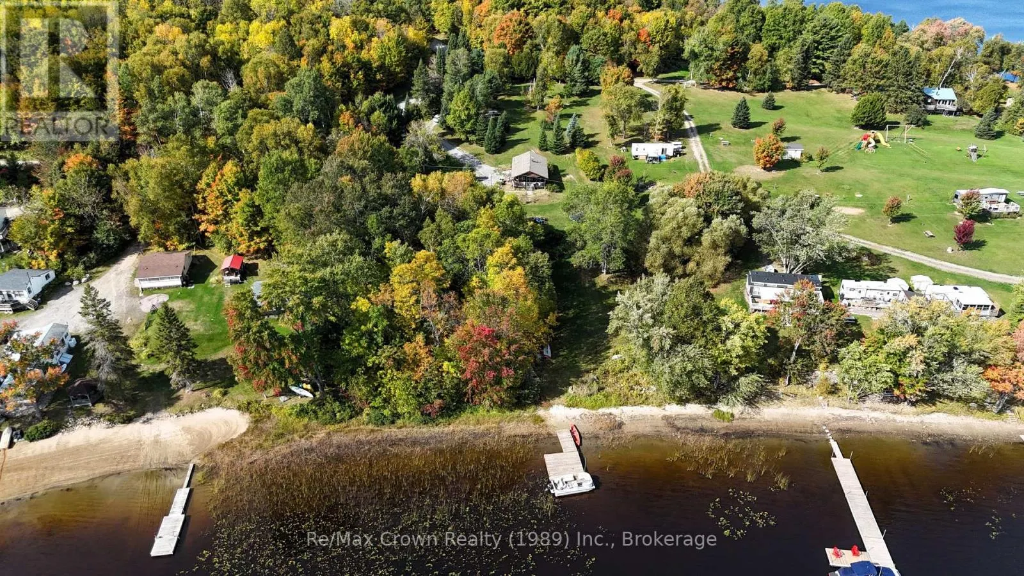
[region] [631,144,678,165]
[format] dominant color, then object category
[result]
white trailer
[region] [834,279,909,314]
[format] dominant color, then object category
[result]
white trailer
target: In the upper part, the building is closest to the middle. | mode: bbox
[511,153,550,190]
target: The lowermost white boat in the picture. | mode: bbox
[545,470,598,497]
